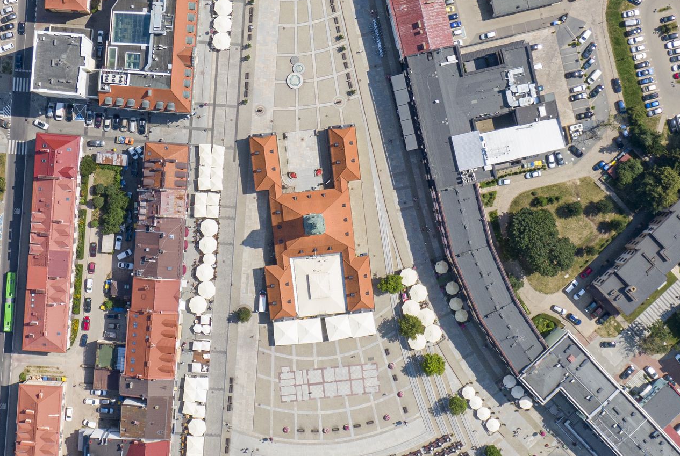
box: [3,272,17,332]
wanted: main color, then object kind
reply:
green vehicle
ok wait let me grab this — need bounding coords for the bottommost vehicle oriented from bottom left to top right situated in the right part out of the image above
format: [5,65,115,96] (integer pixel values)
[620,365,635,379]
